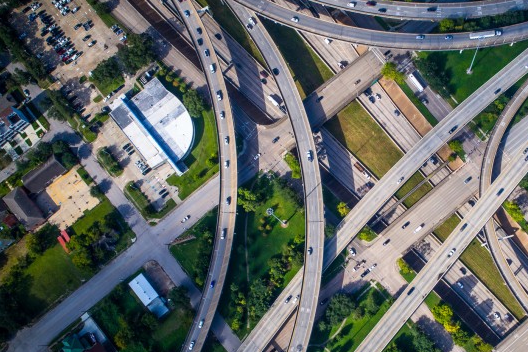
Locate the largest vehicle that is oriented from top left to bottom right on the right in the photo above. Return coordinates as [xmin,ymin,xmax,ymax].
[410,74,426,90]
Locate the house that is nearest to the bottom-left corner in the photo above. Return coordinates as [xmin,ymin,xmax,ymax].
[62,334,88,352]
